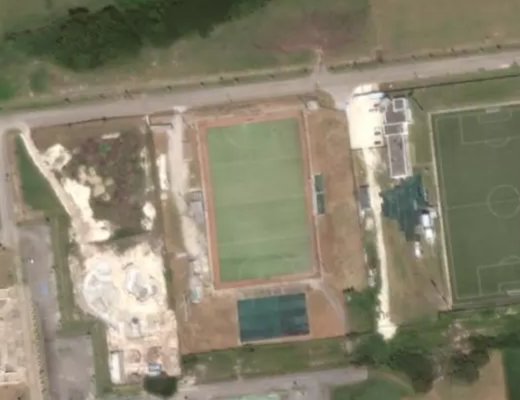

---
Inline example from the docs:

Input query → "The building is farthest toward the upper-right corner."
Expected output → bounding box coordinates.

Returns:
[384,96,413,178]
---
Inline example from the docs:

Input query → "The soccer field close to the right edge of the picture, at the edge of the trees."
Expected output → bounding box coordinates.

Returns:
[432,104,520,305]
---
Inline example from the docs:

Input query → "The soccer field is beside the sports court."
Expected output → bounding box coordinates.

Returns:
[199,110,318,289]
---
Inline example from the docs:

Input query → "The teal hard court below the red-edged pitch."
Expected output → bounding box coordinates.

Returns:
[238,292,309,343]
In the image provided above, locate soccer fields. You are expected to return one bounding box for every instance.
[432,104,520,305]
[199,110,318,289]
